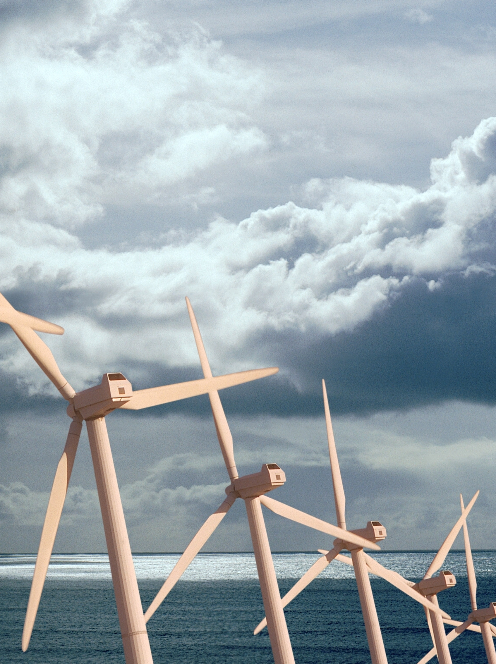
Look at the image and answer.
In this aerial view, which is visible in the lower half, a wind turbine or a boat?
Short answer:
wind turbine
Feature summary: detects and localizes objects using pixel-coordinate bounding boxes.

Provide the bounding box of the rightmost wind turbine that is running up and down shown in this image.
[418,495,496,664]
